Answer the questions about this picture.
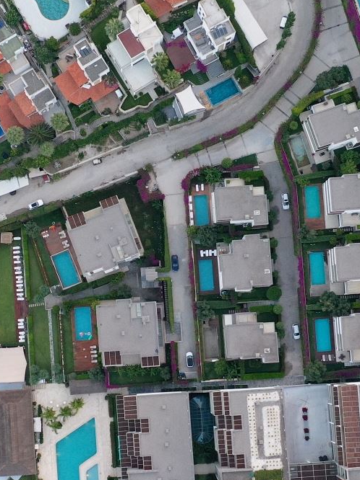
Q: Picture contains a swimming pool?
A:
Yes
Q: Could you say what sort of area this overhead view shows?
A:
residential area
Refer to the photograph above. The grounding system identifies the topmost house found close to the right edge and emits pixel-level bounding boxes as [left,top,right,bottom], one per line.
[301,99,360,155]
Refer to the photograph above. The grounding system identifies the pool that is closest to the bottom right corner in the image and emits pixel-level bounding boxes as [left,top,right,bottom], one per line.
[314,317,333,353]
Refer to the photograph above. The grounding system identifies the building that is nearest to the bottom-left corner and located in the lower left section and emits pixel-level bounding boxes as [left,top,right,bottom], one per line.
[0,389,36,477]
